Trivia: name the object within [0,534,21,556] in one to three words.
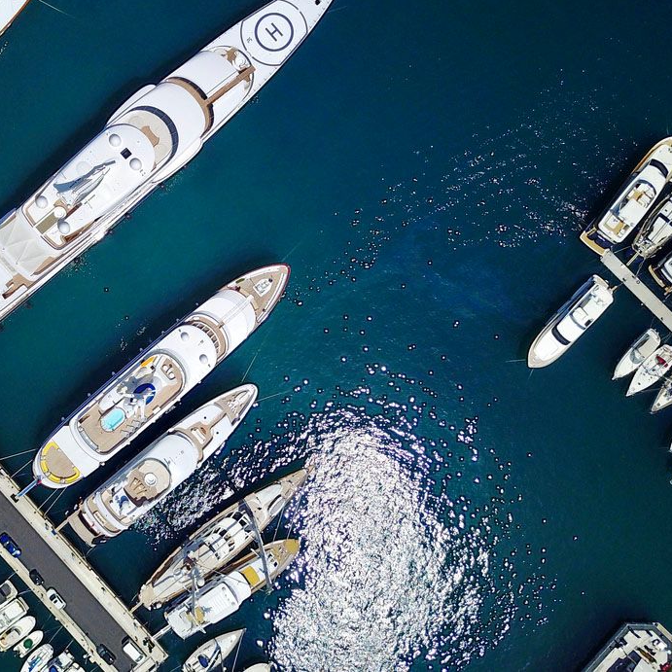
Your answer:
car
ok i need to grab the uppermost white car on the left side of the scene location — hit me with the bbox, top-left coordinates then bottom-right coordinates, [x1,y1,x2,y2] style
[47,588,67,609]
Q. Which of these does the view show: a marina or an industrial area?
marina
